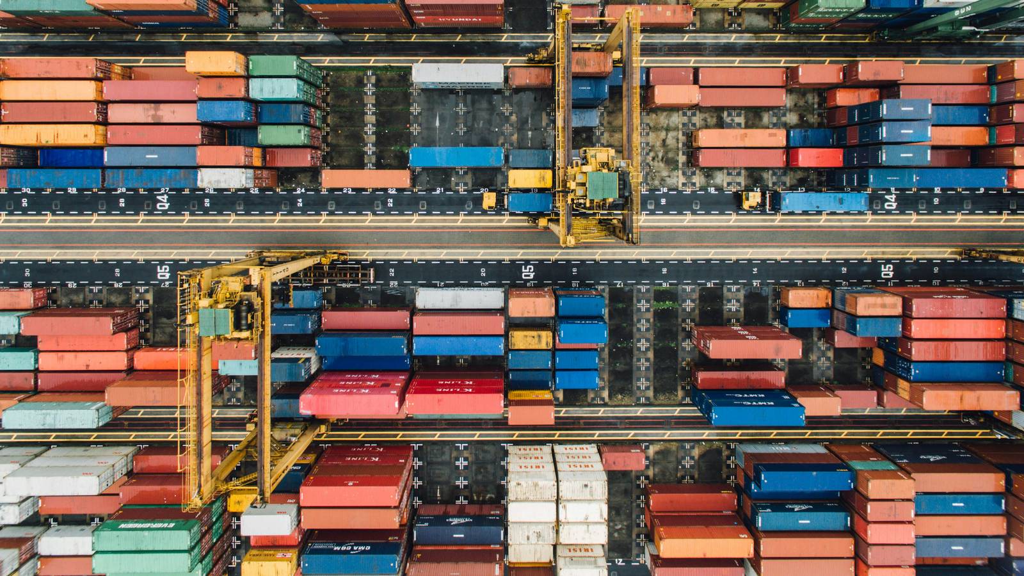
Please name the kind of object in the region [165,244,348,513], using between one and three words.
container crane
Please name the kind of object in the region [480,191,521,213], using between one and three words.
truck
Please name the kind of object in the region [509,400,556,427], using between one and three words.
shipping container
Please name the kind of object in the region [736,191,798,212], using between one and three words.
truck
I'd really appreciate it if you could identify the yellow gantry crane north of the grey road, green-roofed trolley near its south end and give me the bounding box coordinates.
[524,8,644,256]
